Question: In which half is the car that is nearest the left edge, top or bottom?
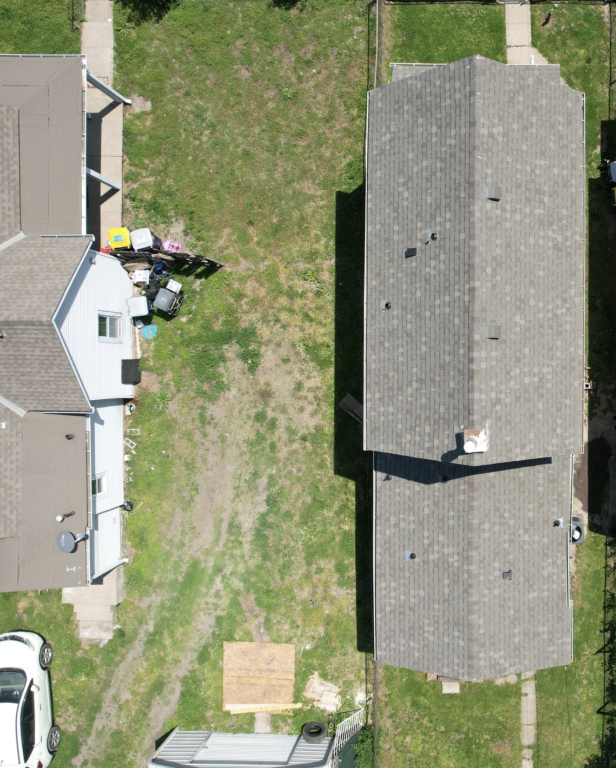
bottom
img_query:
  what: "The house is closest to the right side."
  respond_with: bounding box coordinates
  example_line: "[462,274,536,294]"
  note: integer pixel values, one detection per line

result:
[360,44,589,680]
